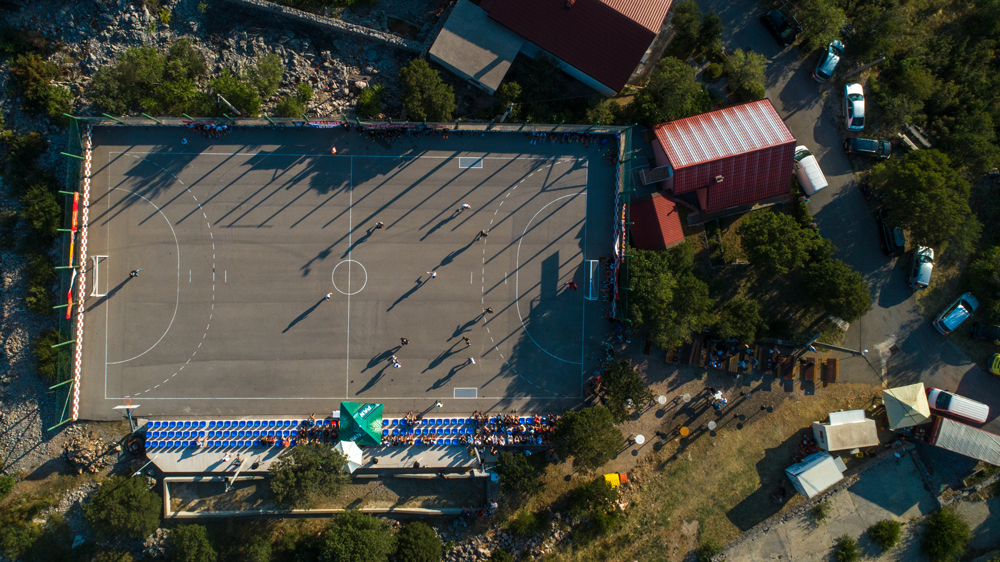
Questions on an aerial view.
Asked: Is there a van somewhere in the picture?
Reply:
Yes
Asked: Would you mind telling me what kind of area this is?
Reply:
sports ground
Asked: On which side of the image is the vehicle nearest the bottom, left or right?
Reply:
right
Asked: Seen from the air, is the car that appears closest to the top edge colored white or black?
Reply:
black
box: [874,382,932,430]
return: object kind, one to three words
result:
gazebo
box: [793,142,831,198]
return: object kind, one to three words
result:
van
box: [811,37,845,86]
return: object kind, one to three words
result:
car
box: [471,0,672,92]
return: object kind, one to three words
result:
house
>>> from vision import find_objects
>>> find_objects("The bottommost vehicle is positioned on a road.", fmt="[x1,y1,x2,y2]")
[925,385,996,425]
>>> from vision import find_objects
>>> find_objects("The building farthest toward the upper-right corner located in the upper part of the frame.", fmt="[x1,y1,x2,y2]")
[651,99,796,212]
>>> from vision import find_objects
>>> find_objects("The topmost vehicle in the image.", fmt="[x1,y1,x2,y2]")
[758,3,801,54]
